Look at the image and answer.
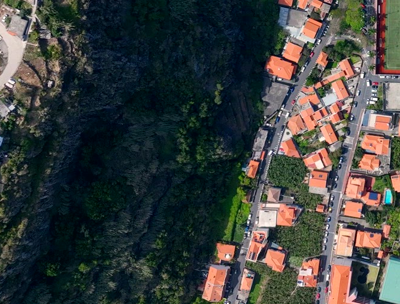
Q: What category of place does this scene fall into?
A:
residential area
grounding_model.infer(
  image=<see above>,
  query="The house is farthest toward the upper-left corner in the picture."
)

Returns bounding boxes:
[7,16,37,39]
